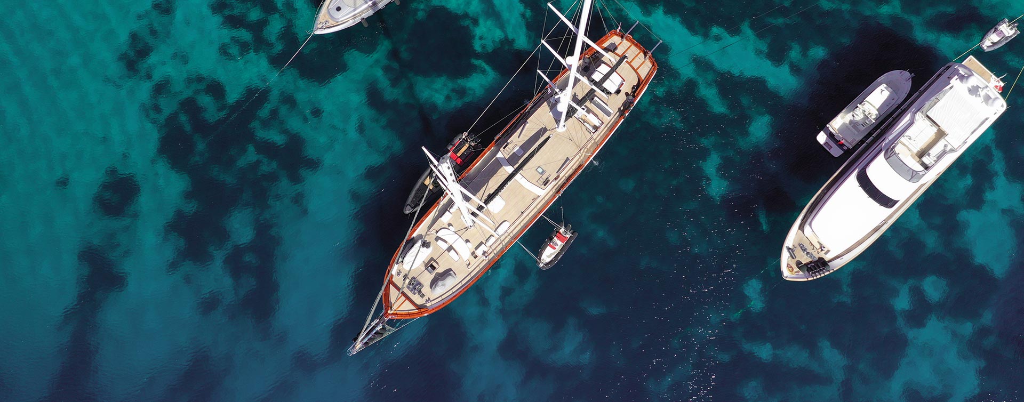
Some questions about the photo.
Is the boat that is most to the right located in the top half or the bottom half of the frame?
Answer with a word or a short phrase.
top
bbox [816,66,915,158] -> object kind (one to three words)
boat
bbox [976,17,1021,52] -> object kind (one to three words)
boat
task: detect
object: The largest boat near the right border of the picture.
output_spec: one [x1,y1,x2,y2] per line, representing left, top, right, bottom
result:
[779,56,1012,285]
